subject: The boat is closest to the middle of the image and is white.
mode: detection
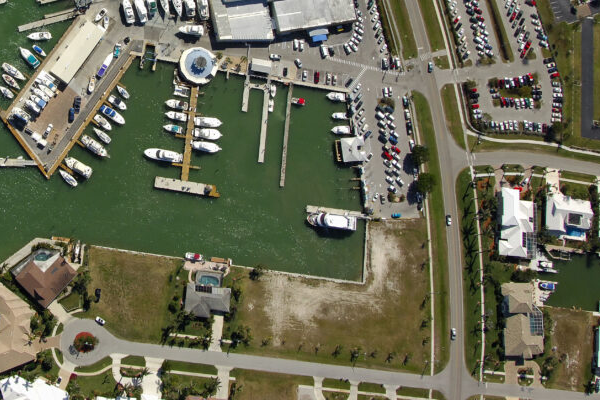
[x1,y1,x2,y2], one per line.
[308,213,359,229]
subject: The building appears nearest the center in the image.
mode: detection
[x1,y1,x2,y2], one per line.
[339,136,366,162]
